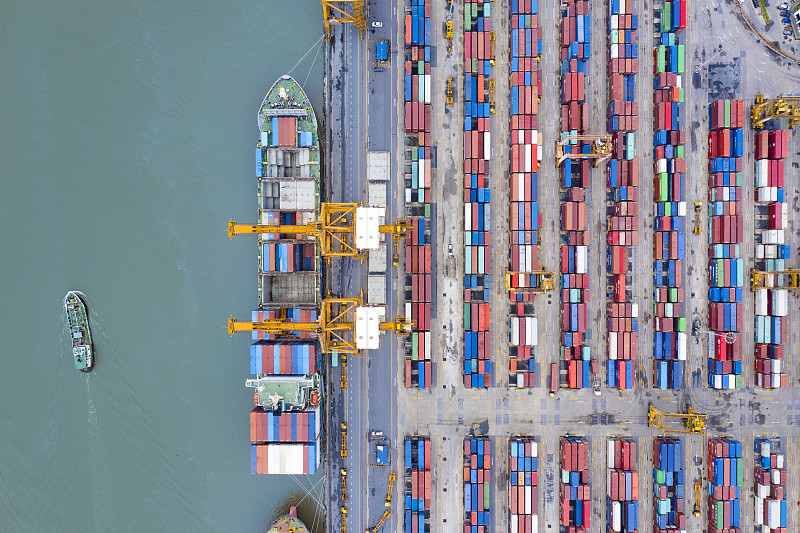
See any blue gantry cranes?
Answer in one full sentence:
No, the photo shows no blue gantry crane.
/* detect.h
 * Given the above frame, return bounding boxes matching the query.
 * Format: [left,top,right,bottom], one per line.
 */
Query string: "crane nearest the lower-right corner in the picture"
[649,401,712,438]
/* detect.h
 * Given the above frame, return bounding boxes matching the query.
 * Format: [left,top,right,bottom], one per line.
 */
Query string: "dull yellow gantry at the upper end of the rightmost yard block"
[752,95,800,131]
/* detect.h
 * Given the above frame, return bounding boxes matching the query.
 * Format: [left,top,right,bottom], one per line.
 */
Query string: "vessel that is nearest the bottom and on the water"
[266,506,311,533]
